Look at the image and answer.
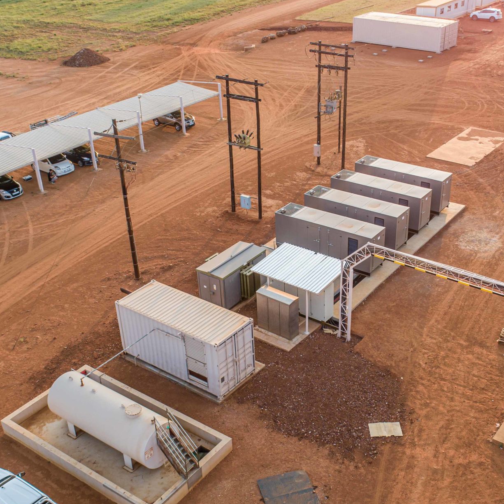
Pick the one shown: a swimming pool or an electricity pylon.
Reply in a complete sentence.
There is an electricity pylon in the scene.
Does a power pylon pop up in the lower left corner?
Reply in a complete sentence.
No, the scene shows no power pylon in the lower left corner.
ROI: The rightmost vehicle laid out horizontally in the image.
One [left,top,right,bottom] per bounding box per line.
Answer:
[470,7,503,22]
